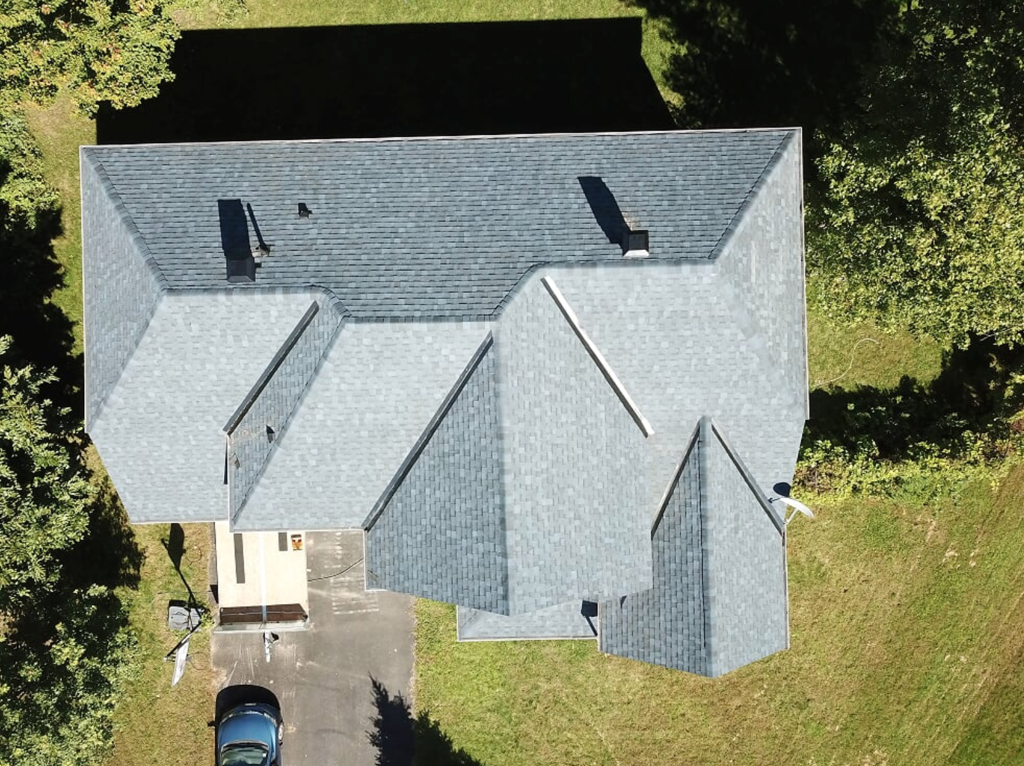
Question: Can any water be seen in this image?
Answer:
No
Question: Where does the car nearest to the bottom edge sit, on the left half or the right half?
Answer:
left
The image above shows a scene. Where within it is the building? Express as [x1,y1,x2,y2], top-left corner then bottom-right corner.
[78,126,812,678]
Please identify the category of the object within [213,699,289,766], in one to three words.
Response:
car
